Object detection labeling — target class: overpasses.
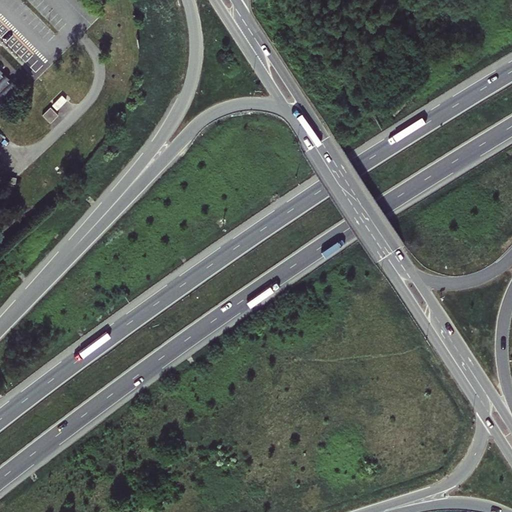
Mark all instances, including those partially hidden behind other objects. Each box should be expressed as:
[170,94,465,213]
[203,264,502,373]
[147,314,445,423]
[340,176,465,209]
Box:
[306,136,404,262]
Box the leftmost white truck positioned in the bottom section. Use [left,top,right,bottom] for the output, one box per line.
[74,333,111,362]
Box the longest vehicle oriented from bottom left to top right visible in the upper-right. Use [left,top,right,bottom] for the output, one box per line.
[388,116,427,144]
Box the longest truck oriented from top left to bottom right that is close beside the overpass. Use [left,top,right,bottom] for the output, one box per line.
[293,107,322,145]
